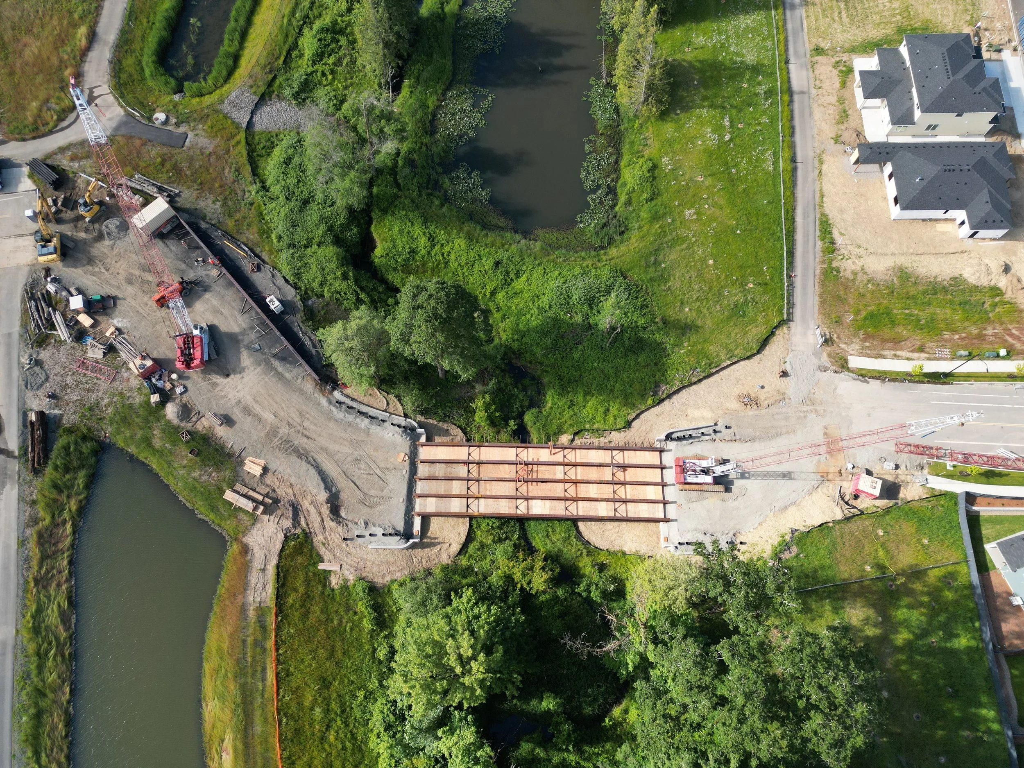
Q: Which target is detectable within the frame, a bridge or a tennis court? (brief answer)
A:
bridge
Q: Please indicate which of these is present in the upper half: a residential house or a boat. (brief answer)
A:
residential house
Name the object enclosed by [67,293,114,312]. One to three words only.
trailer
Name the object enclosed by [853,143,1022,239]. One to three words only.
house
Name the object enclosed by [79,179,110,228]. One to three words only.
work vehicle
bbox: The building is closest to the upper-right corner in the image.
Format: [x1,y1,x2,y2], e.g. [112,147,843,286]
[854,33,1006,136]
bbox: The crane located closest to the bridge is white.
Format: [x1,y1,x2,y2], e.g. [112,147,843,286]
[672,410,984,493]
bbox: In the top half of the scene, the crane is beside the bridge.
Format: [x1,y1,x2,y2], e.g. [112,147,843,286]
[66,73,218,381]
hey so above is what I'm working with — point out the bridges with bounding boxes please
[337,391,715,555]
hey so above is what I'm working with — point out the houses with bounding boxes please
[853,143,1022,239]
[854,33,1006,136]
[988,533,1024,624]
